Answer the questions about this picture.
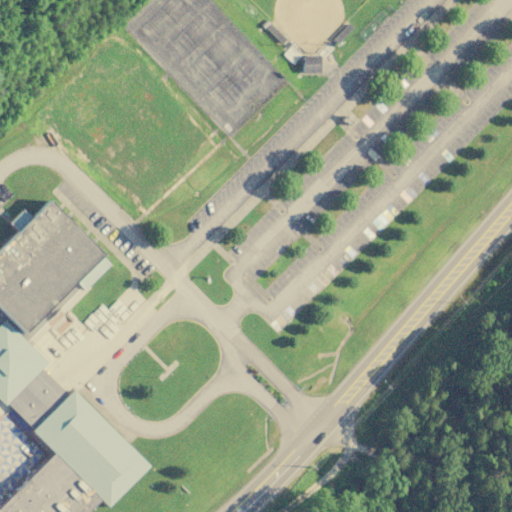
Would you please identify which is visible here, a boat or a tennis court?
tennis court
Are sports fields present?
Yes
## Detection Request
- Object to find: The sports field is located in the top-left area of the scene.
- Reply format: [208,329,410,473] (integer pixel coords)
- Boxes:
[48,40,213,206]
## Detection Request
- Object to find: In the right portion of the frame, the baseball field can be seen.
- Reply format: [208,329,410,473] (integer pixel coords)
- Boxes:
[255,0,368,53]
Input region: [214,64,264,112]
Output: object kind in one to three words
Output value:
tennis court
